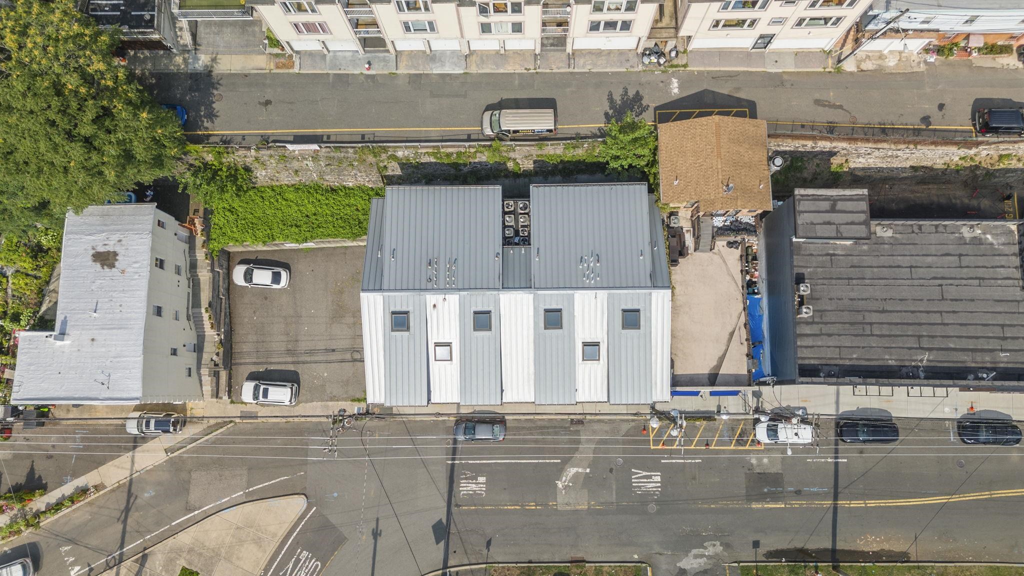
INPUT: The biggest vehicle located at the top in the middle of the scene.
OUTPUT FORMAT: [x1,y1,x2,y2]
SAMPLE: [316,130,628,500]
[483,107,556,145]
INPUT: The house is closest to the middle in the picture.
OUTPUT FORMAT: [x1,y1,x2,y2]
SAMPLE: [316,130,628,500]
[359,180,671,407]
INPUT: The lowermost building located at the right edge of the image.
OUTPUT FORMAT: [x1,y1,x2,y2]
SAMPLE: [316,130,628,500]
[757,188,1024,384]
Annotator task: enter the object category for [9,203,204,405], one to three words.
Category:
house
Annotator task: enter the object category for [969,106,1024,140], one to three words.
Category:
car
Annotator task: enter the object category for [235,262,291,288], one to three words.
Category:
car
